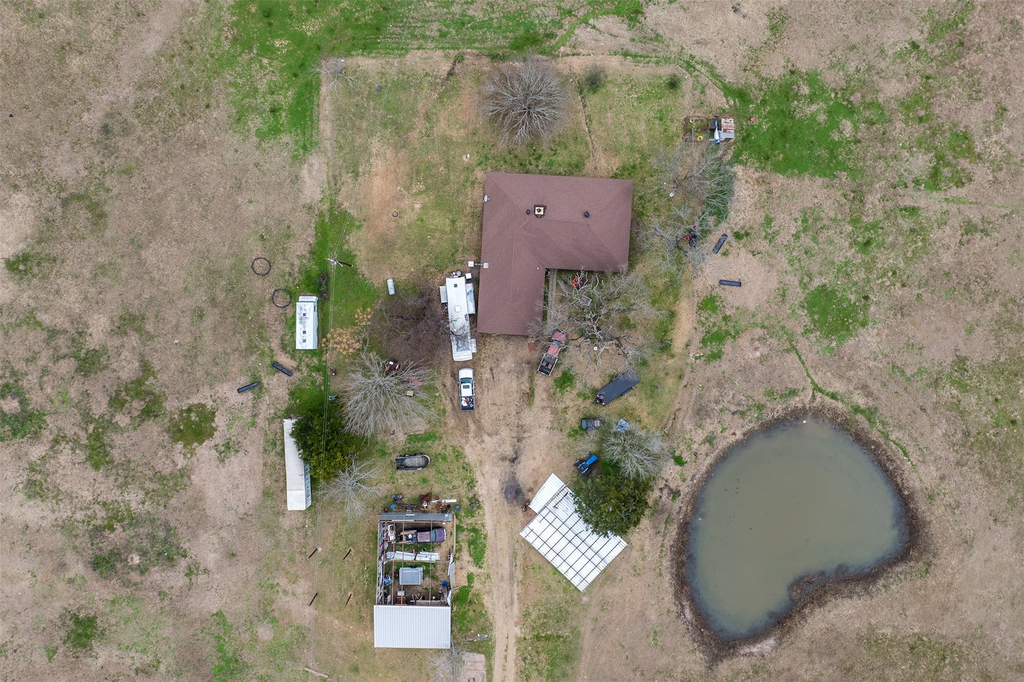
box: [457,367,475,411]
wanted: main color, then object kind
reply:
white vehicle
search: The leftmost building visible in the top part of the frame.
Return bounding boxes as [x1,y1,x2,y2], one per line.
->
[474,172,633,336]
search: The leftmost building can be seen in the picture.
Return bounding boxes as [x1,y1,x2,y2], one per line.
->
[374,511,460,649]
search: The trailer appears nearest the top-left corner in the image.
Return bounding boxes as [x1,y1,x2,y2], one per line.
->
[296,291,319,350]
